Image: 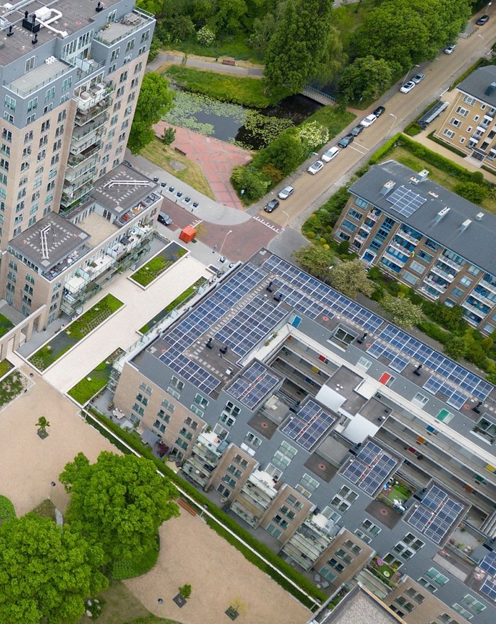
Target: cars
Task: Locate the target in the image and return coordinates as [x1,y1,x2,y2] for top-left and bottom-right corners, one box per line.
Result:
[321,145,340,161]
[361,111,378,125]
[443,42,458,54]
[337,132,355,148]
[263,197,282,212]
[412,72,426,83]
[306,160,325,174]
[400,78,417,92]
[373,103,388,116]
[278,183,296,198]
[476,13,490,23]
[350,122,365,135]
